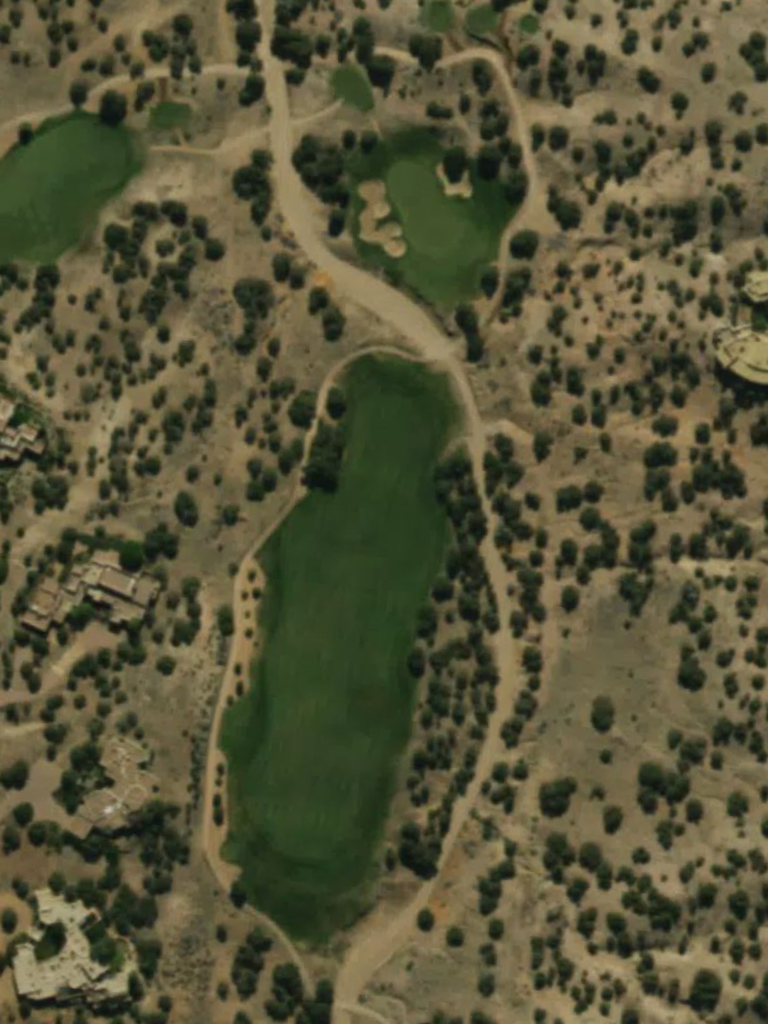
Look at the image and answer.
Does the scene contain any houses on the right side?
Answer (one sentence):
Yes, a house appears on the right side.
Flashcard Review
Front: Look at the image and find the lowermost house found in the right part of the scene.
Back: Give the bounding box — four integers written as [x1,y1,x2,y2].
[716,323,768,384]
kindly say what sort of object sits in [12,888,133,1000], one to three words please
house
